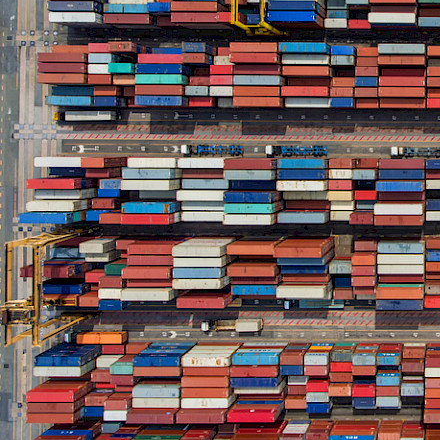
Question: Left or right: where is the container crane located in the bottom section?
left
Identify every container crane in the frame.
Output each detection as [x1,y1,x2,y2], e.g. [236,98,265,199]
[232,0,290,38]
[0,224,98,341]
